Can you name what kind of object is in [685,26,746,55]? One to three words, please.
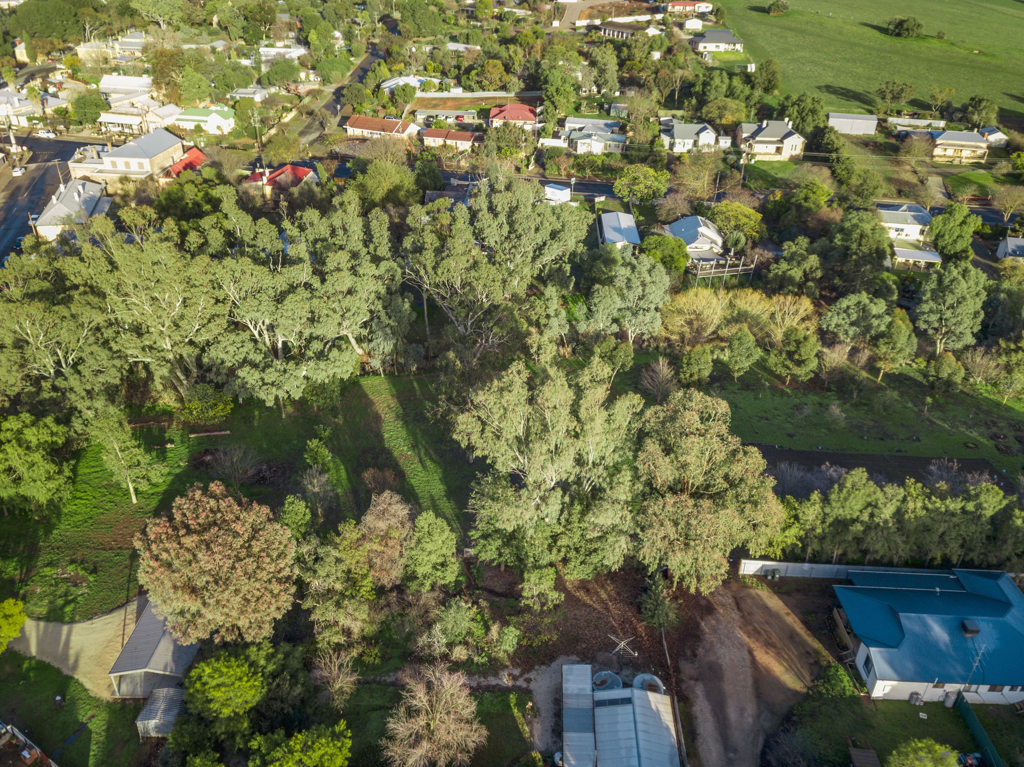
house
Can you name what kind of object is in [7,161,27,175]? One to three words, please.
car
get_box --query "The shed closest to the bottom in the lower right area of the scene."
[836,736,880,767]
